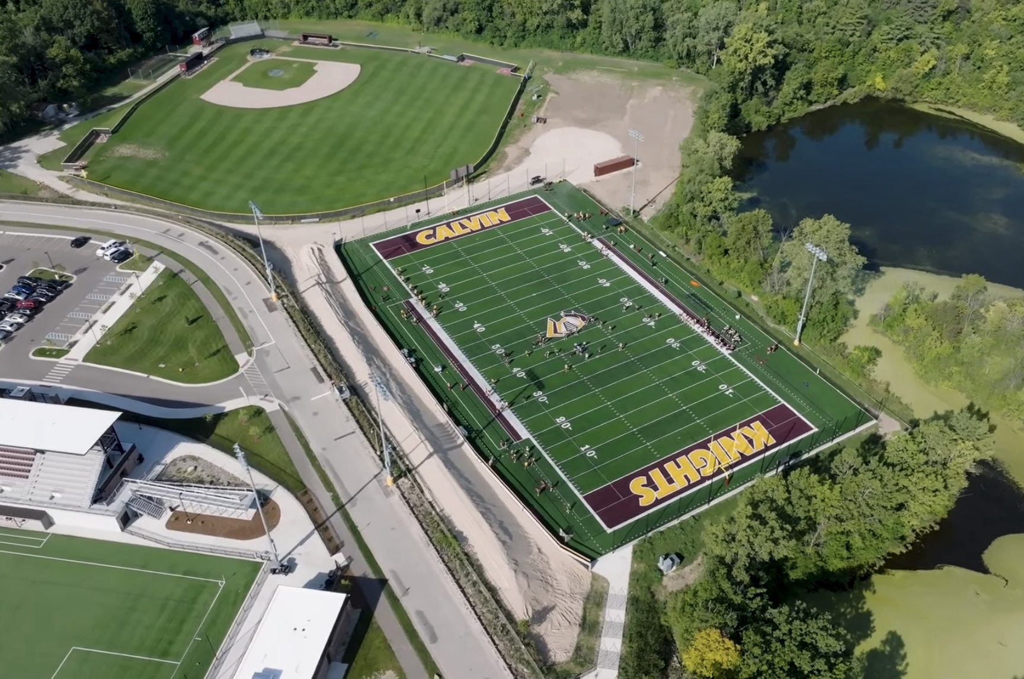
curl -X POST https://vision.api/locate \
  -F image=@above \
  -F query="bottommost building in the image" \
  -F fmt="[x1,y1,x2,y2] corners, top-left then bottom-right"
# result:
[234,584,349,679]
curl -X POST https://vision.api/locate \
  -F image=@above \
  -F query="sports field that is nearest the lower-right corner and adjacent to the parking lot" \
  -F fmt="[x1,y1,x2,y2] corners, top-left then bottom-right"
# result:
[342,180,877,562]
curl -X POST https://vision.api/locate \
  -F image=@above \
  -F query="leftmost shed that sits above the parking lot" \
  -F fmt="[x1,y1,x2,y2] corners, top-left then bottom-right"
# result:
[34,102,61,119]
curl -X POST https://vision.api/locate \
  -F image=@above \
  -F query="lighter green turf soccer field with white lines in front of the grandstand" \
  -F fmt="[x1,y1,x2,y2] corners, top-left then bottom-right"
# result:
[0,527,264,679]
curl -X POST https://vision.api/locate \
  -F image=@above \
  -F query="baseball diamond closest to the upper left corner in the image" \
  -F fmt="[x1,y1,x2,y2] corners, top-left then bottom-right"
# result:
[77,35,520,214]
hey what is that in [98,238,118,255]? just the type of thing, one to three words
vehicle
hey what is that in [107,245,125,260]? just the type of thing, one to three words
car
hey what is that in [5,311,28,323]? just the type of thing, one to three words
vehicle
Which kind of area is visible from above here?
sports ground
